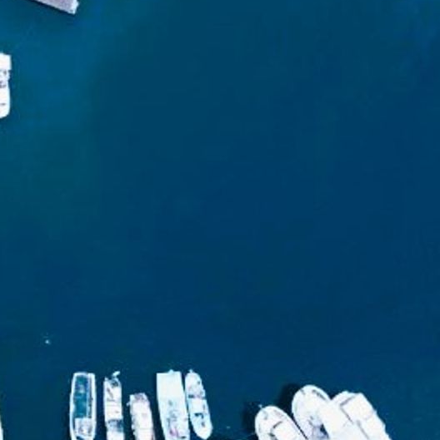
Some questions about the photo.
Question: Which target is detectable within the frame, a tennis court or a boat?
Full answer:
I can see a boat in this picture.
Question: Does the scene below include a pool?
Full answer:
No, no pool can be seen from above.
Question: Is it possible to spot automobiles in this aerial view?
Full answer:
No, the frame has no automobile in it.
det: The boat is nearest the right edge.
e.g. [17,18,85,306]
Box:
[323,383,397,440]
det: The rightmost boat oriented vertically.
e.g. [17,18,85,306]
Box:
[183,367,211,440]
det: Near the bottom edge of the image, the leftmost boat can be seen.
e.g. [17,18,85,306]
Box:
[70,372,97,440]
